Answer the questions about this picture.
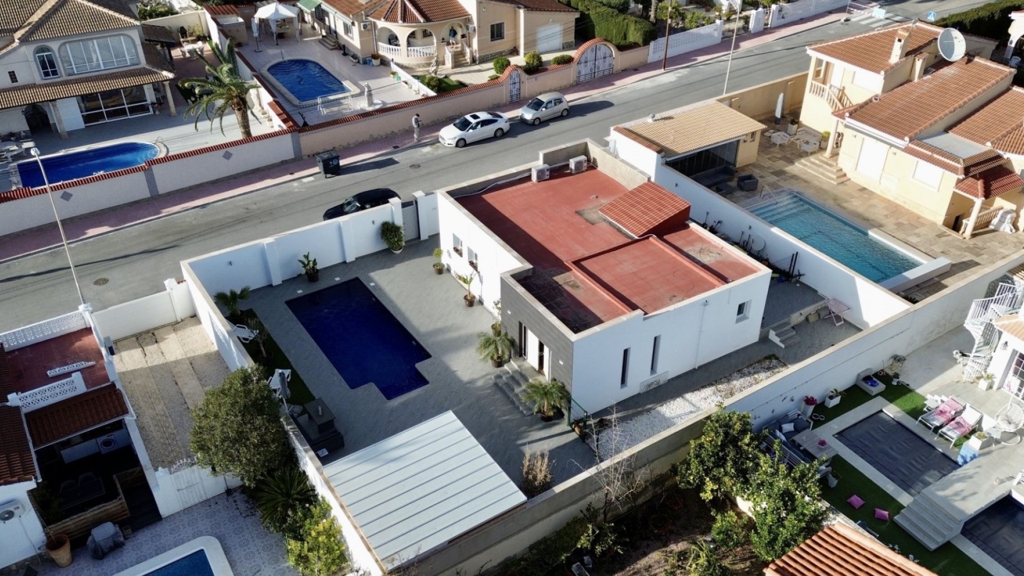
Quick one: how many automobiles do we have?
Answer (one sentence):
The picture shows 3 automobiles.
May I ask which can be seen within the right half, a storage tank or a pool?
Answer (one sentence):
It is a pool that can be seen within the right half.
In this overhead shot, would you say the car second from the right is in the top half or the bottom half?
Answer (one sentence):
It is in the top half that the car second from the right appears.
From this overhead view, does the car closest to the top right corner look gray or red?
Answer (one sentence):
In this view, the car closest to the top right corner is gray.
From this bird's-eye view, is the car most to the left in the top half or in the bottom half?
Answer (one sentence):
Seen from above, the car most to the left lies in the top half of the view.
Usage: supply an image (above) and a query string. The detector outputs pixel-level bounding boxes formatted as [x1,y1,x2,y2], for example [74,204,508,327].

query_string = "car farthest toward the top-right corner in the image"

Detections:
[516,88,569,125]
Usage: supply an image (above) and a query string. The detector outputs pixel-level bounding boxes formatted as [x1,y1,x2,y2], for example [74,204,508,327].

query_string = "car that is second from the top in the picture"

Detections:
[435,111,511,149]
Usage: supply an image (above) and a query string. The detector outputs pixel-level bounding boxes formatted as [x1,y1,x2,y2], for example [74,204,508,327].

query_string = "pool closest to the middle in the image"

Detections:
[285,276,431,398]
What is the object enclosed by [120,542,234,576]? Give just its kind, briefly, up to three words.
swimming pool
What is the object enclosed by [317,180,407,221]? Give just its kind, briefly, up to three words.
car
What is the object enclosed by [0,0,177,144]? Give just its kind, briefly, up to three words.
house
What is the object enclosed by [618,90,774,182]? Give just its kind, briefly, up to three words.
building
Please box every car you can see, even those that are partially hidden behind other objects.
[317,180,407,221]
[435,111,511,149]
[516,88,569,125]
